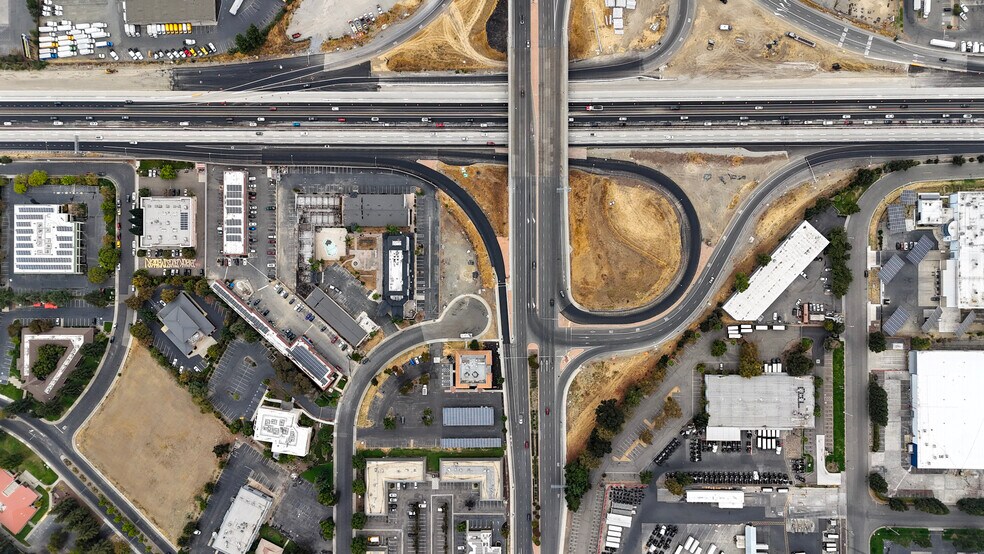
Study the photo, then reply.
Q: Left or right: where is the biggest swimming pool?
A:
left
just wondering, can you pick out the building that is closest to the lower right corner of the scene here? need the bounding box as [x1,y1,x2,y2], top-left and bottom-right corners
[904,349,984,469]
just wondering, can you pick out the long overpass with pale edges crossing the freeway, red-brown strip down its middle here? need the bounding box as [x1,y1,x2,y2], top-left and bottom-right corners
[508,0,571,328]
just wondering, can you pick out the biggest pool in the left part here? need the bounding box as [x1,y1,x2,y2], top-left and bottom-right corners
[316,228,347,260]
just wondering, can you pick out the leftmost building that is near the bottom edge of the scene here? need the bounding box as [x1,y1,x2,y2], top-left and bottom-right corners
[0,463,42,534]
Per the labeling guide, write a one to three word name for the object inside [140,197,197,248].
building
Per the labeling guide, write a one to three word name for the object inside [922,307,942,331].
solar panel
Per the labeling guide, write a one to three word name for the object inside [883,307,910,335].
solar panel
